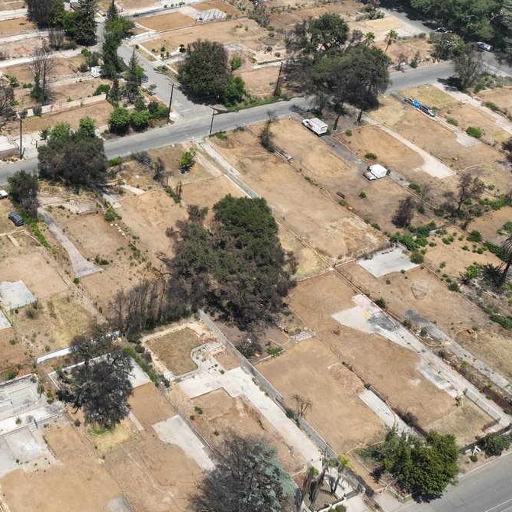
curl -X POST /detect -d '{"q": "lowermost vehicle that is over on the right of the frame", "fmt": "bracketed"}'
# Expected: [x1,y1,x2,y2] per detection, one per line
[366,159,391,178]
